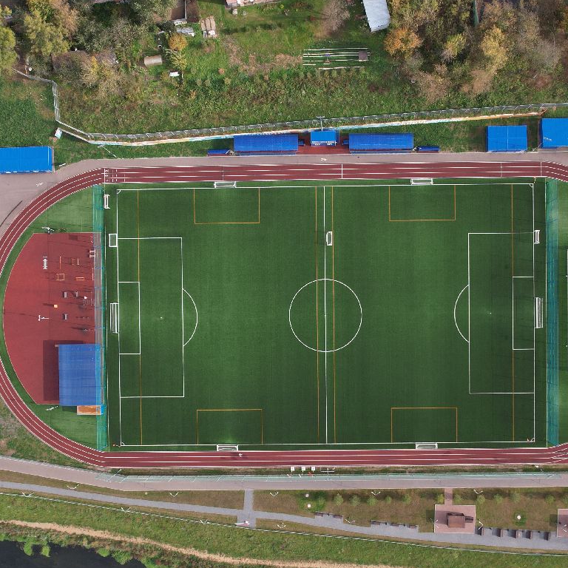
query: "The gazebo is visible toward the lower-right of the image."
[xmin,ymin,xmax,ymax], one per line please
[445,513,465,528]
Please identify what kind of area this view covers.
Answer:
sports ground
